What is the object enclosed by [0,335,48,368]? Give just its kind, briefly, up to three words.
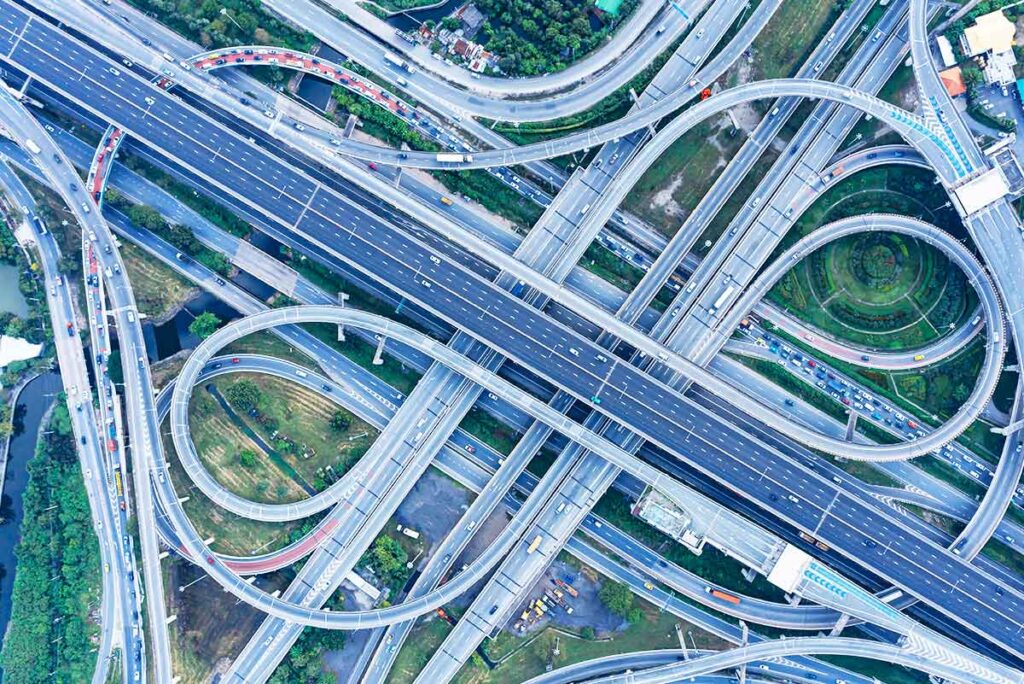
building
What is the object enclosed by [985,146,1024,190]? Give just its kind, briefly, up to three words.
building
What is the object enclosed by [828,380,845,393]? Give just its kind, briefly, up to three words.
vehicle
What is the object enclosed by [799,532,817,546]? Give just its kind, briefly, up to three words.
vehicle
